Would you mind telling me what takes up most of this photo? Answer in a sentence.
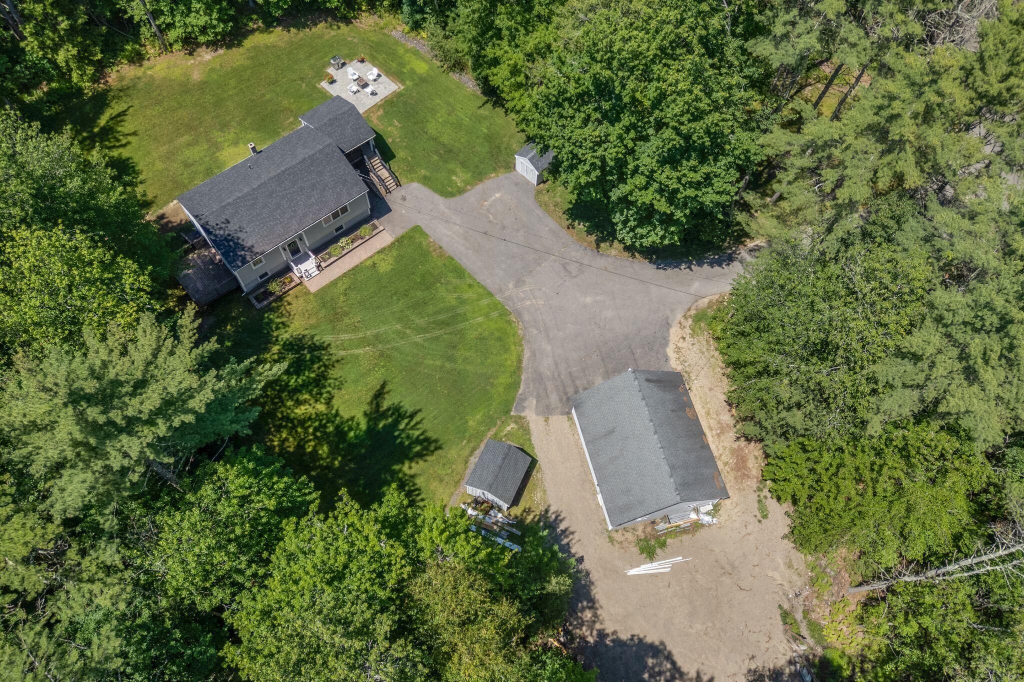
The scene is dominated by trees.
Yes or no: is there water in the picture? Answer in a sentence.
No, no water is visible.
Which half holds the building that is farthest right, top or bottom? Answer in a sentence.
Seen from above, the building that is farthest right lies in the bottom half of the view.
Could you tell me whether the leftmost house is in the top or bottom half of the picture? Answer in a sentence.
The leftmost house is in the top half of the image.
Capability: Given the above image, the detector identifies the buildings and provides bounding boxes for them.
[514,135,563,186]
[176,96,377,302]
[571,368,731,534]
[464,439,532,510]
